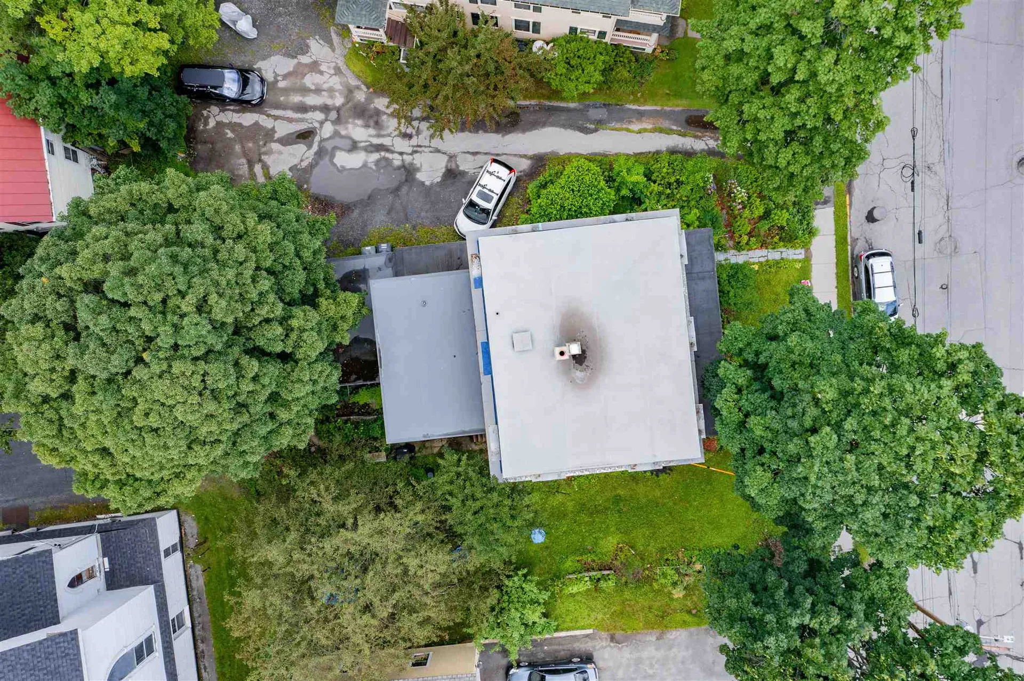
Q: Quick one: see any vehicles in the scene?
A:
Yes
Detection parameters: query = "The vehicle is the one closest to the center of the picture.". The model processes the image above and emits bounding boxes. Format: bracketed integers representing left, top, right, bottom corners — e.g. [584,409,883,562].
[456,152,516,235]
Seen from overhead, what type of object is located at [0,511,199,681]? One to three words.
house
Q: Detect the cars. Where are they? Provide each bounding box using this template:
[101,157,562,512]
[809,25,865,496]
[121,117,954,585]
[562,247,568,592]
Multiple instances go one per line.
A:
[854,244,907,328]
[456,152,516,235]
[509,657,600,681]
[172,60,266,108]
